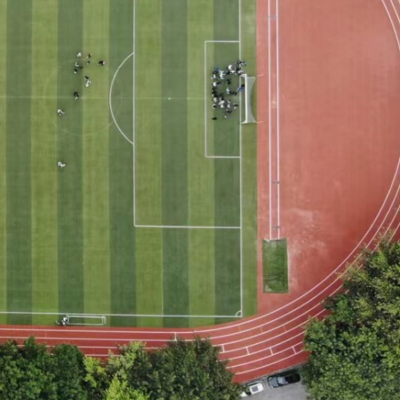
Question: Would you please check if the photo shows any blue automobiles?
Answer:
No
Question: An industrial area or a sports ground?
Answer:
sports ground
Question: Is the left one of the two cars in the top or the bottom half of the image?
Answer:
bottom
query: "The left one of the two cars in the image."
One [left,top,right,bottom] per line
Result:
[237,379,267,400]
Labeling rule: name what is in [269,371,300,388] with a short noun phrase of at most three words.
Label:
car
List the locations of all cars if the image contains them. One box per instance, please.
[237,379,267,400]
[269,371,300,388]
